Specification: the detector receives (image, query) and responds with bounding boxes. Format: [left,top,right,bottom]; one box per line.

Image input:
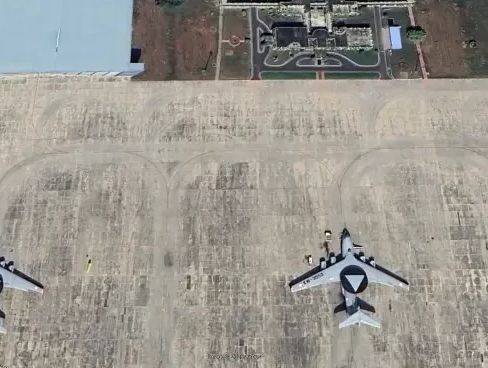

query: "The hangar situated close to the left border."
[0,0,146,77]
